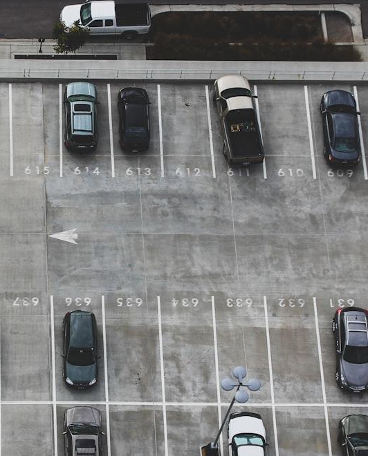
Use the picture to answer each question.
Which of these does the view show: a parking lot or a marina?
parking lot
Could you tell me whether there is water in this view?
No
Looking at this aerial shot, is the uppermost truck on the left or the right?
left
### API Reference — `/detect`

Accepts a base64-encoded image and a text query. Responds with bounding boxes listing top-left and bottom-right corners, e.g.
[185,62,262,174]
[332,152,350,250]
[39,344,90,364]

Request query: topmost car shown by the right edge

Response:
[314,90,359,167]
